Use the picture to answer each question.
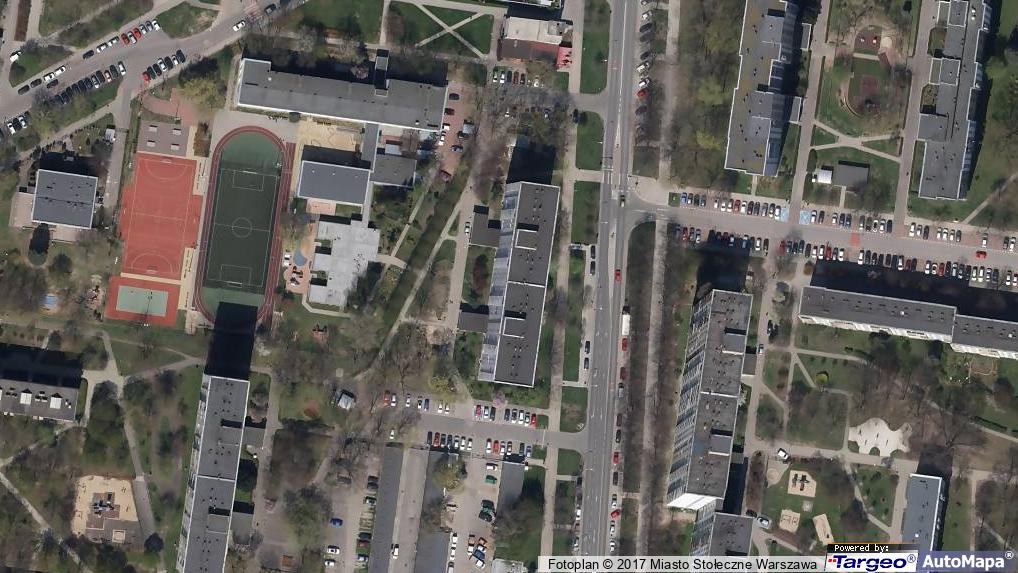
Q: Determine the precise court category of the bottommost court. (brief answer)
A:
basketball court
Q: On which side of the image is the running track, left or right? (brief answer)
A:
left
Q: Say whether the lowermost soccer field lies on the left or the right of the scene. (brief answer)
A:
left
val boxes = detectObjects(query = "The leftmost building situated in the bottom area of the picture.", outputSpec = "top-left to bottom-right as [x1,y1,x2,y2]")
[0,378,79,422]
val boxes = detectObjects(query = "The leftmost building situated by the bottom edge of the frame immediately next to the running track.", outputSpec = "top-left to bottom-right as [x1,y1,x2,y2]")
[175,376,250,573]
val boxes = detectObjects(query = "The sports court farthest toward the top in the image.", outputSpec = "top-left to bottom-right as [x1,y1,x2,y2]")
[117,151,204,281]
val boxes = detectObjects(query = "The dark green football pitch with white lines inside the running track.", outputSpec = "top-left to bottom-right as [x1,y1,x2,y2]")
[204,137,280,319]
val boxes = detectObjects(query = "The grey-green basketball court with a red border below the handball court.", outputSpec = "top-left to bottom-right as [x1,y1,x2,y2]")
[104,277,181,326]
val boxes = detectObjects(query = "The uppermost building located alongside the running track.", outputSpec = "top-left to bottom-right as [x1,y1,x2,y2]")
[237,59,447,134]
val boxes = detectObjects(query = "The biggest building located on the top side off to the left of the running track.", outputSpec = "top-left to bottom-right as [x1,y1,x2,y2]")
[32,169,97,231]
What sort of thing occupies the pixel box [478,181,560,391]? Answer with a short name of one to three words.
building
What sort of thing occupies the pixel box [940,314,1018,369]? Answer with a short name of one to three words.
building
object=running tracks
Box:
[193,126,296,329]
